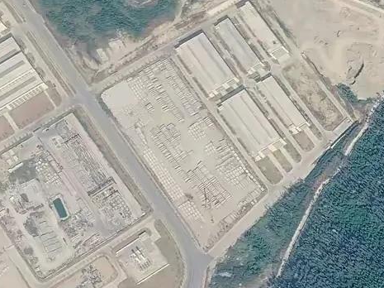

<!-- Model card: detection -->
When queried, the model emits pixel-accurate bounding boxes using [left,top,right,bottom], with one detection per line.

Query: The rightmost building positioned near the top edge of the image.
[239,2,289,66]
